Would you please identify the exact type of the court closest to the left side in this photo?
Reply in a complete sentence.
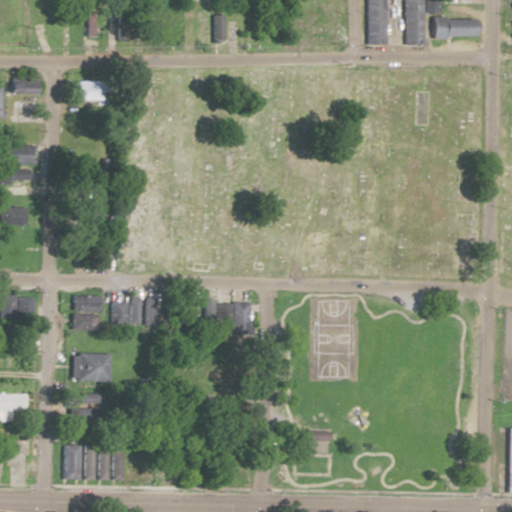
I'd say the court closest to the left side is a basketball court.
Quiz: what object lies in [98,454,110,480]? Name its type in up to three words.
house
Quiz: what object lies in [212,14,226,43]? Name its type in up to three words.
house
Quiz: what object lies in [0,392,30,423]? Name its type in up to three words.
building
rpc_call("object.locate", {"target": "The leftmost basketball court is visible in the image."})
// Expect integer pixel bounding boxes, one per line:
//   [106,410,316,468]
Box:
[310,298,358,381]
